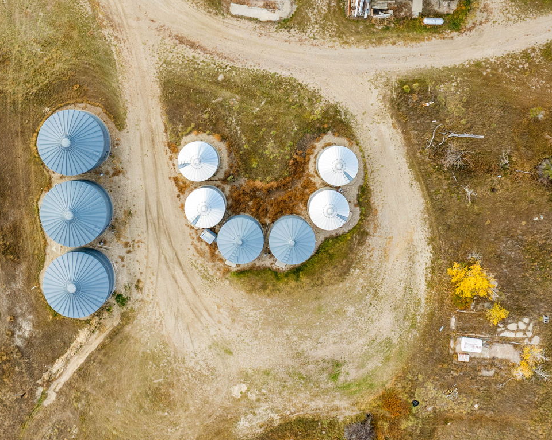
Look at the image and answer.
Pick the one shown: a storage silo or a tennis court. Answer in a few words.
storage silo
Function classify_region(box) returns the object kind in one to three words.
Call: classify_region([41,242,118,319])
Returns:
silo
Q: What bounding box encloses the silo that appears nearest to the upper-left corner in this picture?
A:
[37,106,114,177]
